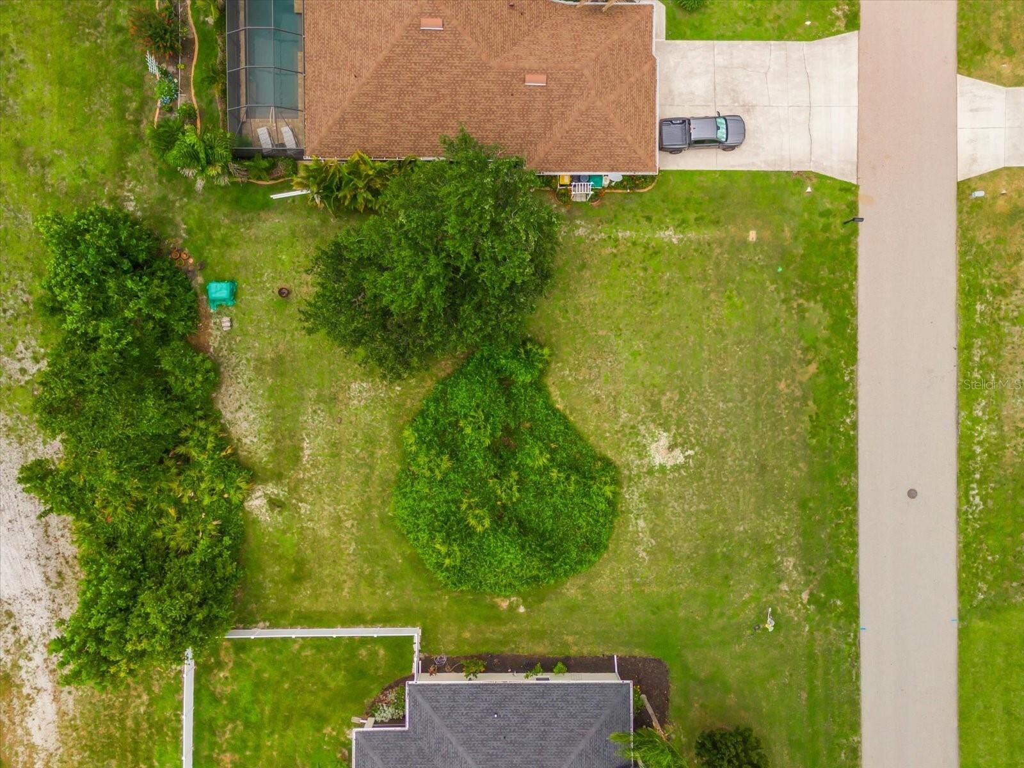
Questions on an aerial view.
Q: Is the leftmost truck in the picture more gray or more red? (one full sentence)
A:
In this view, the leftmost truck is gray.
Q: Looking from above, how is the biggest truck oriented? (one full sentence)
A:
I'd say the biggest truck is aligned horizontally in the picture.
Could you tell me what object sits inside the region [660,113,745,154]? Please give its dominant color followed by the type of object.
gray truck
